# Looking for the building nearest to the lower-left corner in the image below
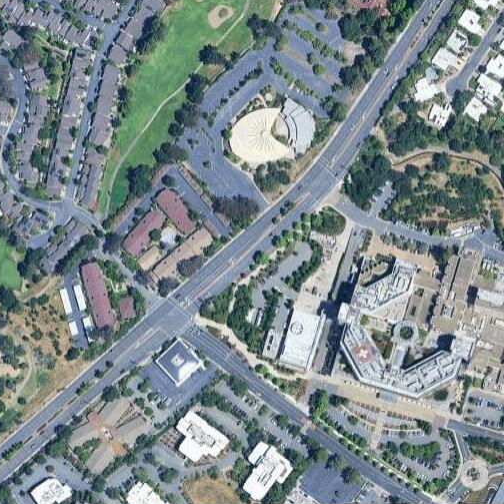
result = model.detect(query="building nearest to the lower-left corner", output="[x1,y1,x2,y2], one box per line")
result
[30,477,72,504]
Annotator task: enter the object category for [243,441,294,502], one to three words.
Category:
building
